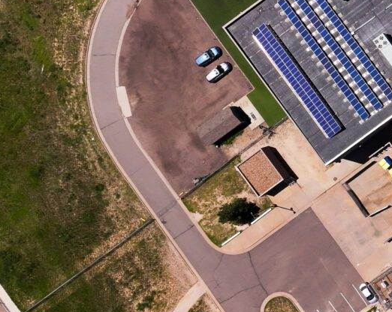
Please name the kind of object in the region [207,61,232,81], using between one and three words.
car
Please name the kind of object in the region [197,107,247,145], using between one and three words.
shed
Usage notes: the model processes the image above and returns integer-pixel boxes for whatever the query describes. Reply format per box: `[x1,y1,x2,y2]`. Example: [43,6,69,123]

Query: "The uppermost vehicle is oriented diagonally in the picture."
[197,46,222,65]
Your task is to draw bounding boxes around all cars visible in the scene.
[197,46,222,65]
[358,279,378,302]
[207,61,232,81]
